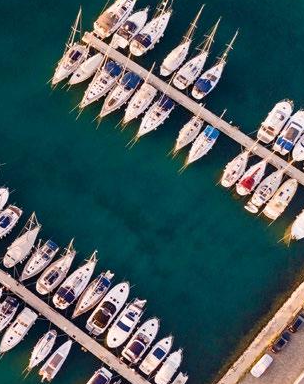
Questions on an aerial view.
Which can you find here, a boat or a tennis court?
boat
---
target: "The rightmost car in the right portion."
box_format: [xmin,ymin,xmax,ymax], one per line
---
[288,312,304,333]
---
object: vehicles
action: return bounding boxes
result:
[270,331,291,353]
[251,353,275,379]
[288,312,304,333]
